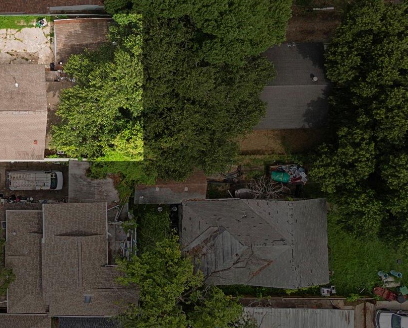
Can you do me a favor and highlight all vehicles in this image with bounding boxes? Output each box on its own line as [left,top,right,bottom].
[374,309,408,328]
[5,168,63,193]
